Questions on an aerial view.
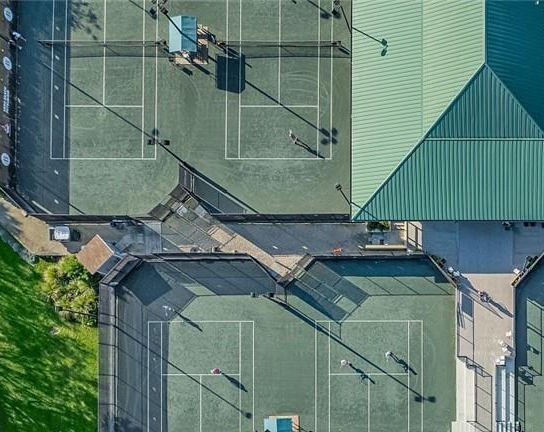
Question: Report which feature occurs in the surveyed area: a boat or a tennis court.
tennis court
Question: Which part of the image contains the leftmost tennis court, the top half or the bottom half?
top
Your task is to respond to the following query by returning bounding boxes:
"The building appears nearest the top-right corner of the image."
[350,0,544,223]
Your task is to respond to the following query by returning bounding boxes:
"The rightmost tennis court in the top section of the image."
[190,0,350,216]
